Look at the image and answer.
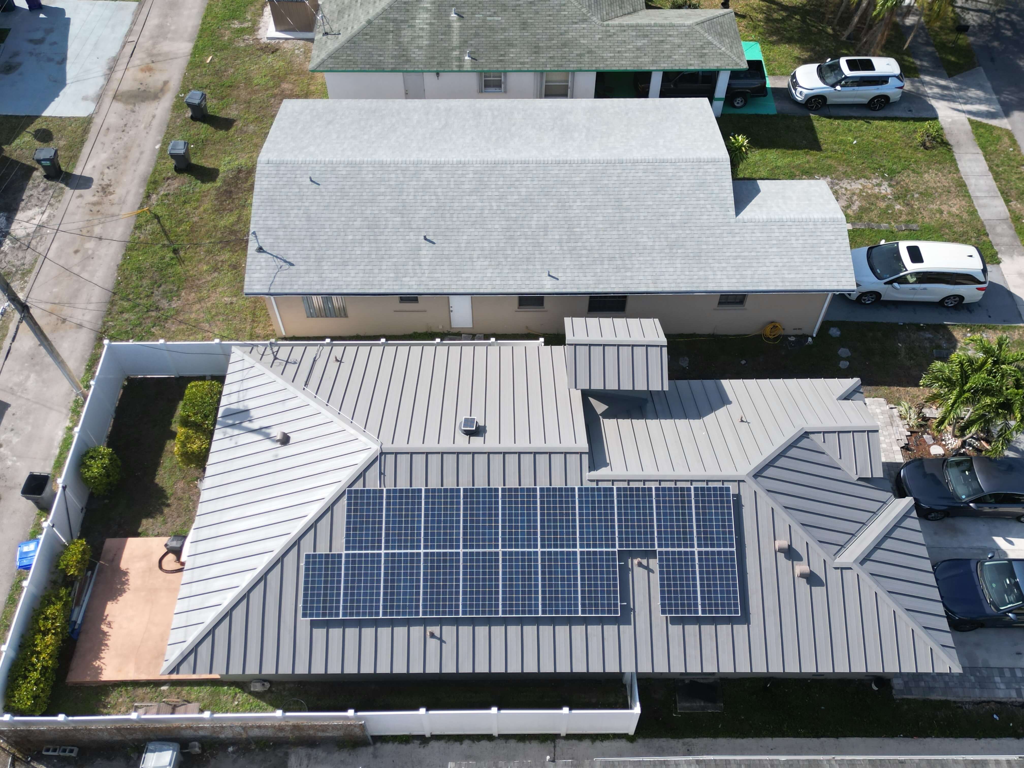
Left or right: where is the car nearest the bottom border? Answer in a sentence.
The car nearest the bottom border appears in the right half of the scene.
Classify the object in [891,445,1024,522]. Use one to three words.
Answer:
car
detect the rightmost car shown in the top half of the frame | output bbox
[844,239,991,308]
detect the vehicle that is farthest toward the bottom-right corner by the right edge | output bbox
[932,547,1024,632]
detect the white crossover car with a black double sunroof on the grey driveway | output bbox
[782,53,905,109]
